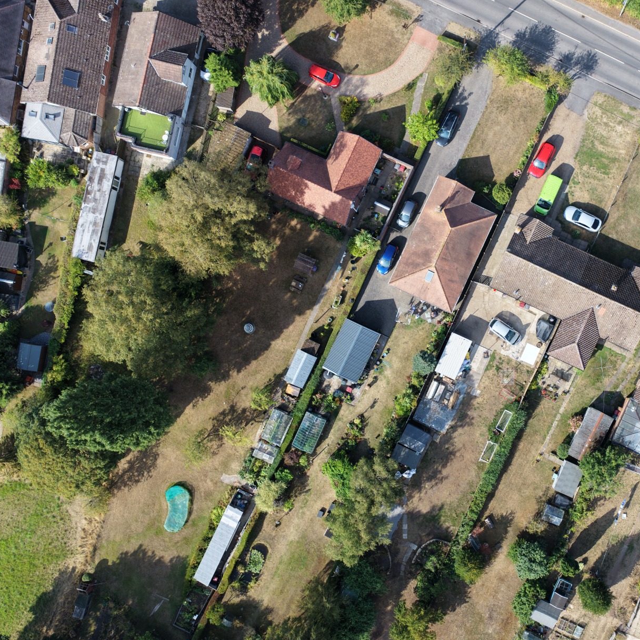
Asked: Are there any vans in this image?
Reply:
Yes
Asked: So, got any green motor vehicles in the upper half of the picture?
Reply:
Yes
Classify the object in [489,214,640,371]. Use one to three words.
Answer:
house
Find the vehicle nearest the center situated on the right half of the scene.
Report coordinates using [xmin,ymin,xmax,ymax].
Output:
[376,241,400,276]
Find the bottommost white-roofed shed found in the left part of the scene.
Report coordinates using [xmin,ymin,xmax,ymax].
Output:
[194,502,246,586]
